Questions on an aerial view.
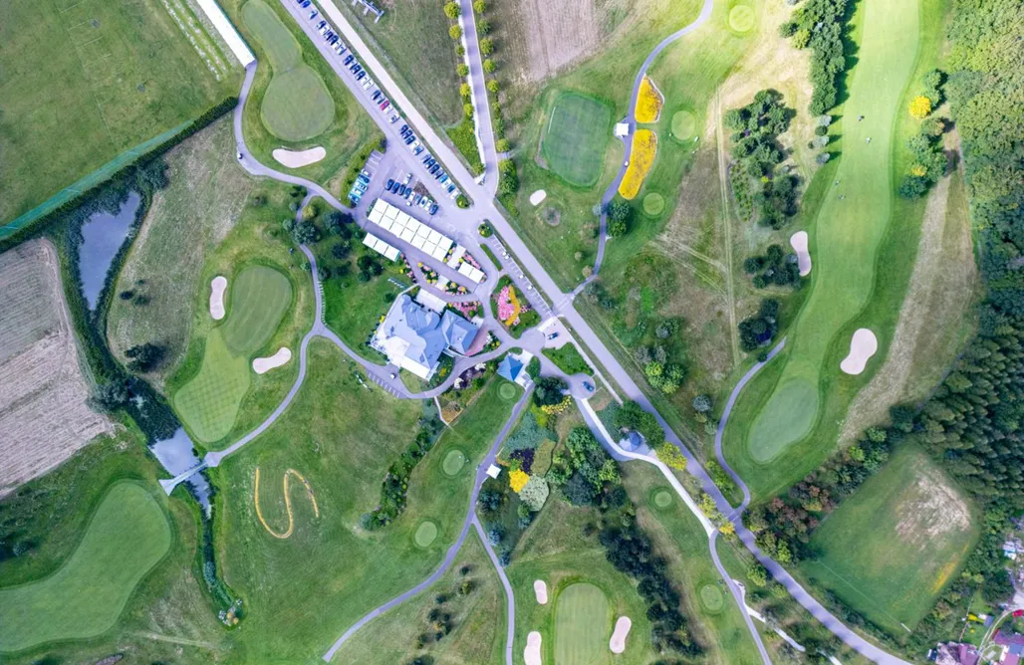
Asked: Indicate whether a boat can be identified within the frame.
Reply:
No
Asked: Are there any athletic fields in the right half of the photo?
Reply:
Yes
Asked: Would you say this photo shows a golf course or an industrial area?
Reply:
golf course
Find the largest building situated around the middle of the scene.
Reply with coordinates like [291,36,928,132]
[369,284,478,382]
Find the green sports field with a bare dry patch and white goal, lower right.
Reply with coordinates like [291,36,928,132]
[809,443,978,634]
